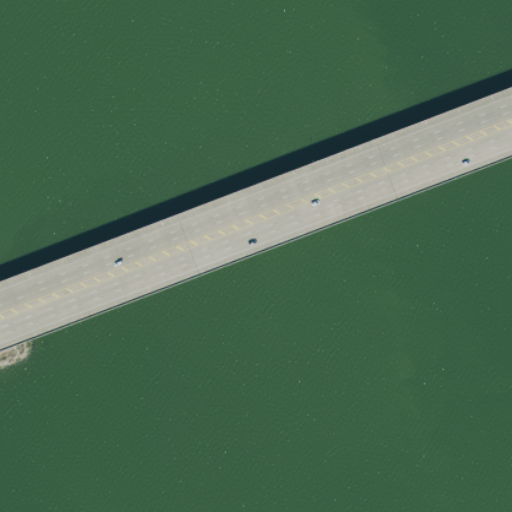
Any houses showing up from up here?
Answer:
No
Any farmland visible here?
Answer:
No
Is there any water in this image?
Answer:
Yes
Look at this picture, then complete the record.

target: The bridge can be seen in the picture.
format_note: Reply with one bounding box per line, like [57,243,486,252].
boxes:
[0,86,512,352]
